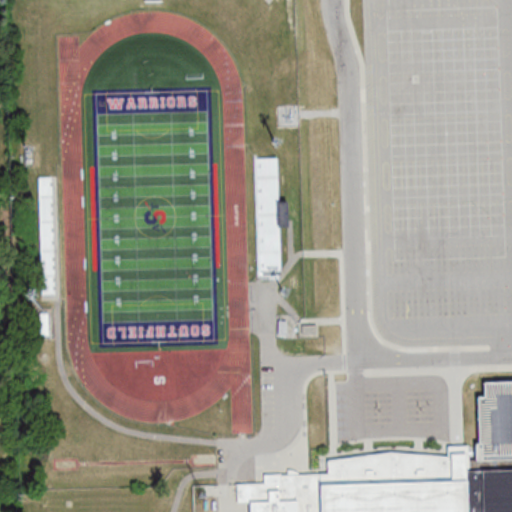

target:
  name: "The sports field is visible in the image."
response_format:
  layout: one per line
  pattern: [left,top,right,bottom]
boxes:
[82,33,229,353]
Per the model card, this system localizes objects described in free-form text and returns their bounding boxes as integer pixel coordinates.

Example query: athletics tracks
[57,12,253,434]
